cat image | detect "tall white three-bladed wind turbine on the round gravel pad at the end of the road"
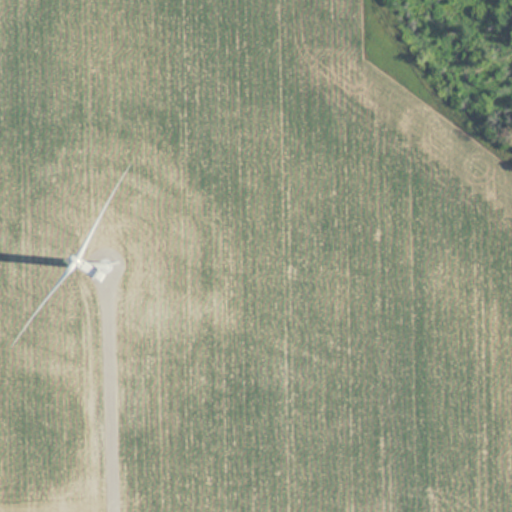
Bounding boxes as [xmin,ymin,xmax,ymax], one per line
[14,164,133,346]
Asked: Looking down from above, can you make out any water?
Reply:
No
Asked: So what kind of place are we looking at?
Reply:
farmland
